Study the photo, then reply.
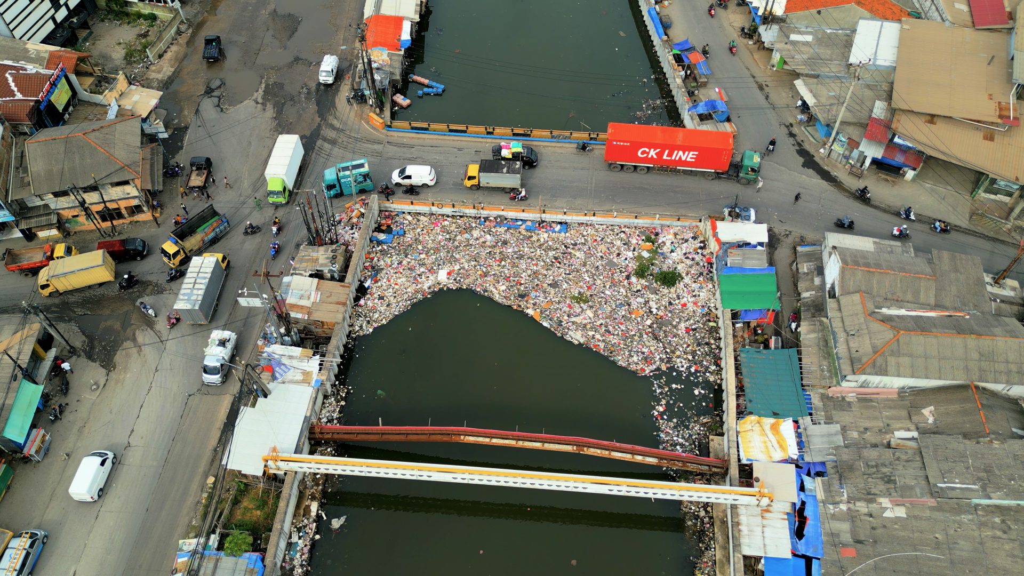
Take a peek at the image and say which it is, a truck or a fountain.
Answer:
truck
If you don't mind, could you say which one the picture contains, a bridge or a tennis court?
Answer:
bridge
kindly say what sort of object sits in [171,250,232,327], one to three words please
truck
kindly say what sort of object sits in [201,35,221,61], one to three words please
vehicle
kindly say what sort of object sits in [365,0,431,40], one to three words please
shed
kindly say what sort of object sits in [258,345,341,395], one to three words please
shed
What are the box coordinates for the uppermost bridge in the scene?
[376,125,707,237]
